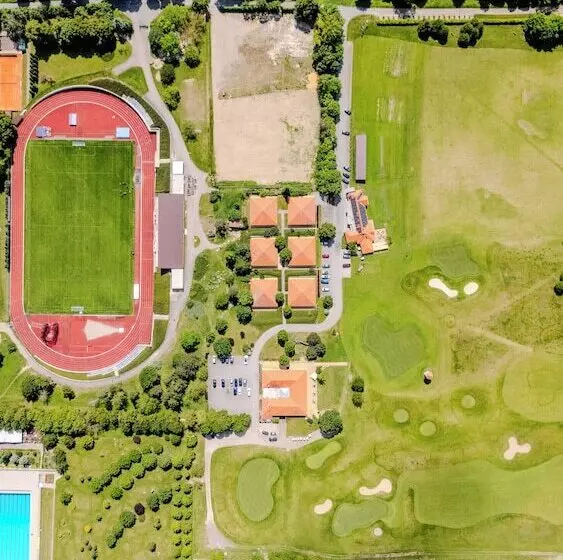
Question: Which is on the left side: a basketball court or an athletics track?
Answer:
athletics track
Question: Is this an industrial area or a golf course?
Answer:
golf course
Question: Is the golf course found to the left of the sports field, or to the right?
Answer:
on the right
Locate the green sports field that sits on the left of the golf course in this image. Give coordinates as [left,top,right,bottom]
[26,140,134,314]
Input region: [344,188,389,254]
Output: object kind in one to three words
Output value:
building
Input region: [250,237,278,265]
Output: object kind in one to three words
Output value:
house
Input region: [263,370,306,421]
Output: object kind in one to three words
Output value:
building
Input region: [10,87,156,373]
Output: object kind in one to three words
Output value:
running track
